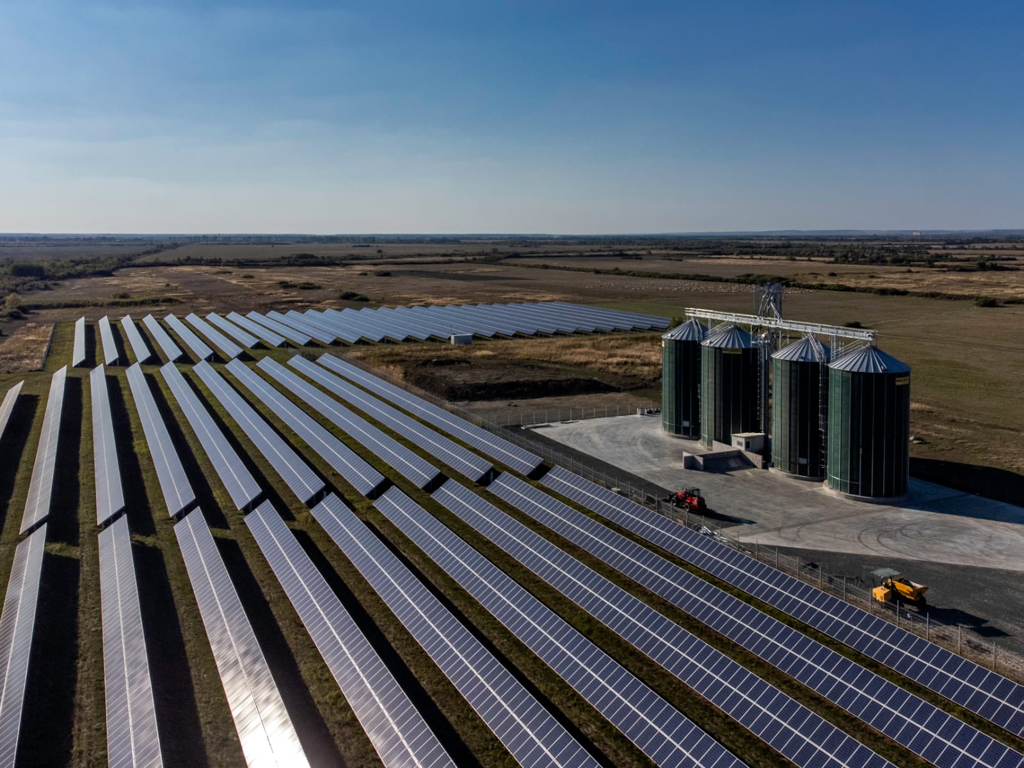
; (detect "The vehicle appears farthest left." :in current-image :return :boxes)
[661,483,710,513]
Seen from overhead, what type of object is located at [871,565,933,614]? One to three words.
truck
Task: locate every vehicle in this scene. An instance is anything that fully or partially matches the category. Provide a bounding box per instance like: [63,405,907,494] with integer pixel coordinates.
[871,565,933,614]
[661,483,710,513]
